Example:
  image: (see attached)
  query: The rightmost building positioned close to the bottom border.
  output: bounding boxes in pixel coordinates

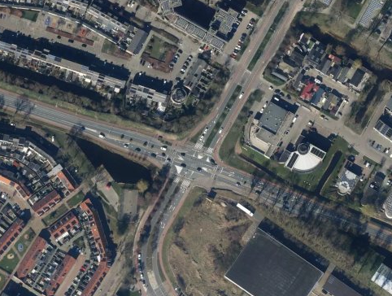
[372,263,392,294]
